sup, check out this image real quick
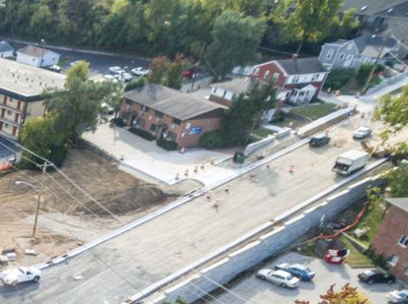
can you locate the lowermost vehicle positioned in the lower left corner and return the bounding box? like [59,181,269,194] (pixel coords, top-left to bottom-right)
[0,264,46,287]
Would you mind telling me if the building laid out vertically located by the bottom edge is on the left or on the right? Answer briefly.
right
